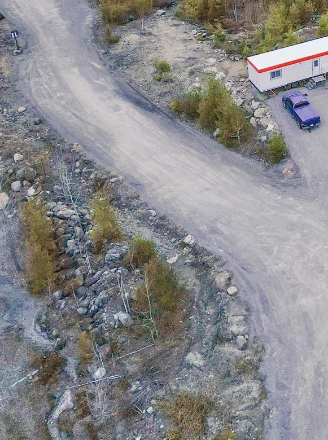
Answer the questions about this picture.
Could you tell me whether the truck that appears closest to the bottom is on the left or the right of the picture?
right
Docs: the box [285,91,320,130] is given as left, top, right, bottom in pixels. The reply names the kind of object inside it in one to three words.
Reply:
truck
